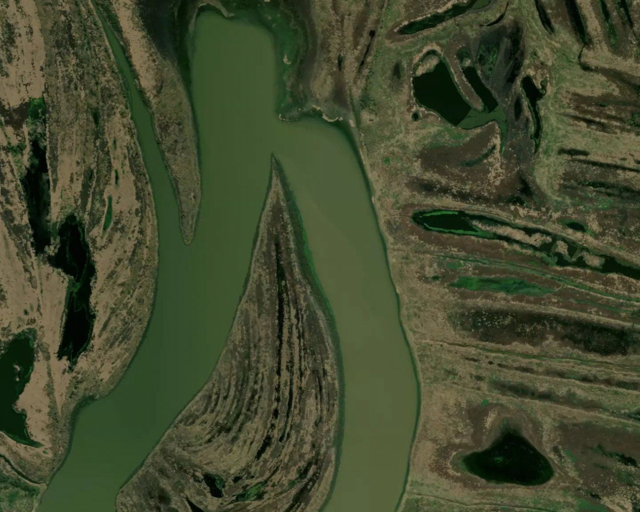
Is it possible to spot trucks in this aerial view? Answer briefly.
No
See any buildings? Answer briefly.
No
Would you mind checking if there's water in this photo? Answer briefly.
Yes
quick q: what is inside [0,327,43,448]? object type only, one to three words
pond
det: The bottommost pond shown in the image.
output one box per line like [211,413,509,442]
[462,430,552,485]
